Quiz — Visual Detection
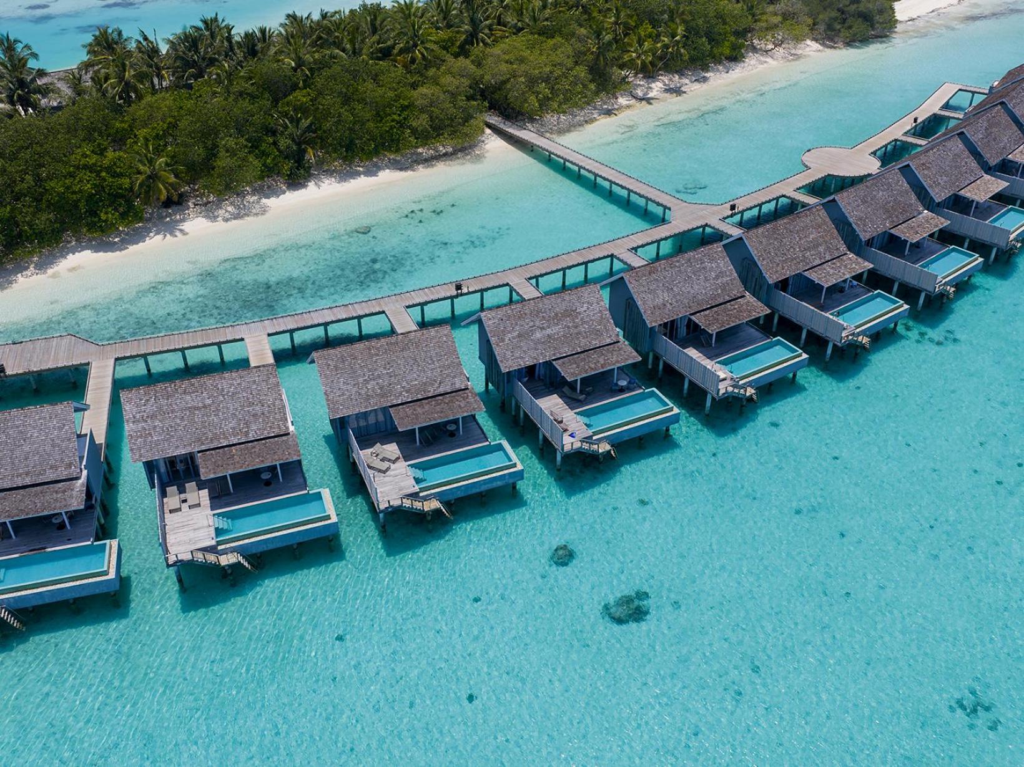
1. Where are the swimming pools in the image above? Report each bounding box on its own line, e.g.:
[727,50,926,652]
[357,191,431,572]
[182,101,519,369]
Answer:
[824,290,909,338]
[912,245,983,287]
[571,387,680,445]
[981,205,1024,241]
[207,489,337,557]
[0,539,120,609]
[711,336,808,390]
[405,440,523,503]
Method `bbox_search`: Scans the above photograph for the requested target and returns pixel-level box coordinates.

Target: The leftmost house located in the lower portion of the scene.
[0,402,112,556]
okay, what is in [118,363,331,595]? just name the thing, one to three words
house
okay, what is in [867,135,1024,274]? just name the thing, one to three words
house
